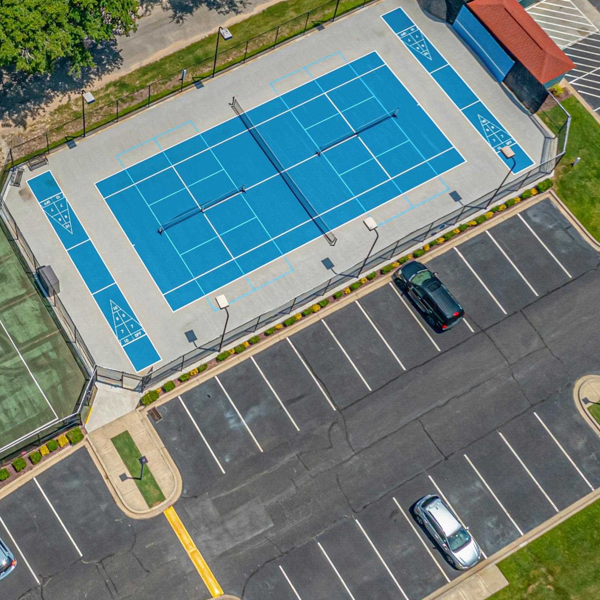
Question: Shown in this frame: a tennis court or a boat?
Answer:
tennis court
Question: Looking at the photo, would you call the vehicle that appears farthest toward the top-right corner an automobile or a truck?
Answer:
automobile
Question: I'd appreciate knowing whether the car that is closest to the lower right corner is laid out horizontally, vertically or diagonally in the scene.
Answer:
diagonally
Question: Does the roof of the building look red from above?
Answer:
Yes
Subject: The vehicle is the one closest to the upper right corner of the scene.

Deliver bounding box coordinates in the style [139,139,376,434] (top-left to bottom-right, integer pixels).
[394,263,463,334]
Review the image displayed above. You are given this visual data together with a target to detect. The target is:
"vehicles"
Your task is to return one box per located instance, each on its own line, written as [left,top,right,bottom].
[394,263,463,334]
[414,493,479,572]
[0,541,16,584]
